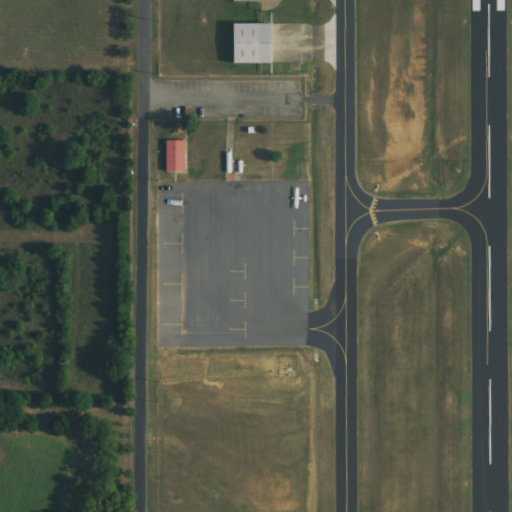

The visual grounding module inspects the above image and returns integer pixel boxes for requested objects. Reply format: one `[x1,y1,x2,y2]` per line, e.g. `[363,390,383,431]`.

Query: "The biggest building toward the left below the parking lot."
[166,140,185,172]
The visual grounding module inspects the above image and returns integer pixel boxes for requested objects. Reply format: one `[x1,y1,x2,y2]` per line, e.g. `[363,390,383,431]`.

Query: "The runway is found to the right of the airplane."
[452,0,508,512]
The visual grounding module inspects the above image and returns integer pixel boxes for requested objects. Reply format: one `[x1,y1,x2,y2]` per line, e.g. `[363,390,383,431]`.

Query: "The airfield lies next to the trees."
[158,0,508,512]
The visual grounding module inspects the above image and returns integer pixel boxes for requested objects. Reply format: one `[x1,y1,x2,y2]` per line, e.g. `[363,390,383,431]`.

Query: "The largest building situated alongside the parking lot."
[234,12,272,74]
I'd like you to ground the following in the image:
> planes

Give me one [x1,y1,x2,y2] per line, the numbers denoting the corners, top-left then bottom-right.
[292,187,308,209]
